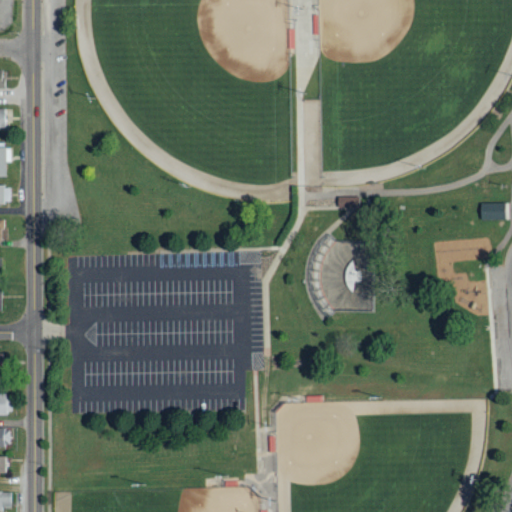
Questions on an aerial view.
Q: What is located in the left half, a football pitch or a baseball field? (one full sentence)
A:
It is a baseball field that can be seen in the left half.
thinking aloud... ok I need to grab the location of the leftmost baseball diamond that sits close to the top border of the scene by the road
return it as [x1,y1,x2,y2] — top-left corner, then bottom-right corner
[74,0,291,202]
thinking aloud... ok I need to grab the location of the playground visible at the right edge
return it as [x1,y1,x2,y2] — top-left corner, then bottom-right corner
[435,238,492,315]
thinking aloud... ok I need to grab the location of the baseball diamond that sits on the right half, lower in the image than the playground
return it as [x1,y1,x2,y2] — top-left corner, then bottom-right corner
[277,399,487,512]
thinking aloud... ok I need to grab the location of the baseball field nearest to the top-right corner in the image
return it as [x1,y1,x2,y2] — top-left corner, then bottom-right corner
[320,0,512,187]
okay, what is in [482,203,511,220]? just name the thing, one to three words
building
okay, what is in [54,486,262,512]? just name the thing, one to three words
baseball field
